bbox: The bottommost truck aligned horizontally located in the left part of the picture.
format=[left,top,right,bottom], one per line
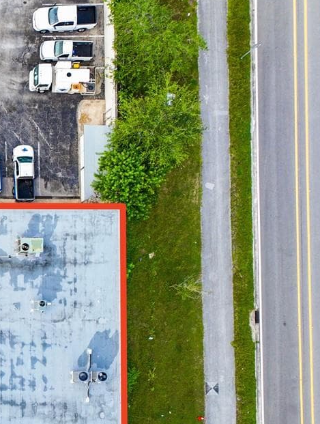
[28,62,95,92]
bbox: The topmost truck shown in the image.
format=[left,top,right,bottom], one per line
[32,3,98,33]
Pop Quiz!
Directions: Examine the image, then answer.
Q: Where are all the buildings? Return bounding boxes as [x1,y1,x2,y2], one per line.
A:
[79,125,115,205]
[0,206,124,424]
